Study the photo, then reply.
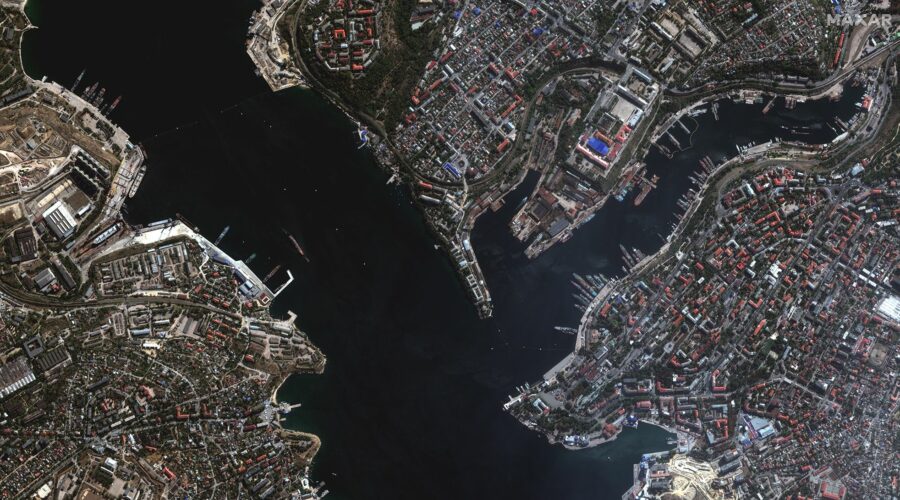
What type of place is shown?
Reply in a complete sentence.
This image shows a port.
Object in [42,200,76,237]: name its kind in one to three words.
building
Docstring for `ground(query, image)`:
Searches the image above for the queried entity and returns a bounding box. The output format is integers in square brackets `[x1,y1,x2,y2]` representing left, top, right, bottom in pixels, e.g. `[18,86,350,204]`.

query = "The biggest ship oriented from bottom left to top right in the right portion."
[635,184,652,203]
